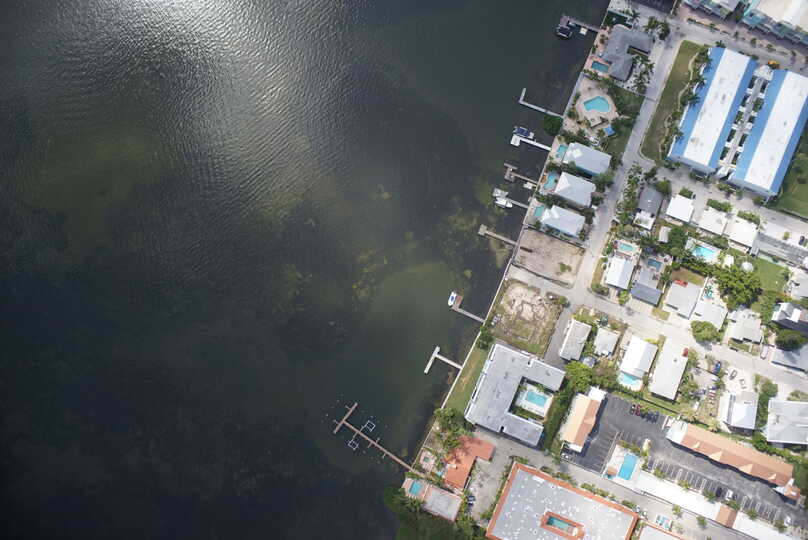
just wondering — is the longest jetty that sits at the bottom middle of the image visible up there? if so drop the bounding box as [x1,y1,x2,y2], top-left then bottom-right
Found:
[332,401,432,482]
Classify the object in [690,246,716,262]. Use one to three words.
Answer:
swimming pool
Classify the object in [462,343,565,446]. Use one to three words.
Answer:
building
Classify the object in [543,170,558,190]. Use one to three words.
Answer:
swimming pool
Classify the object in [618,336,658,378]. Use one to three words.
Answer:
house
